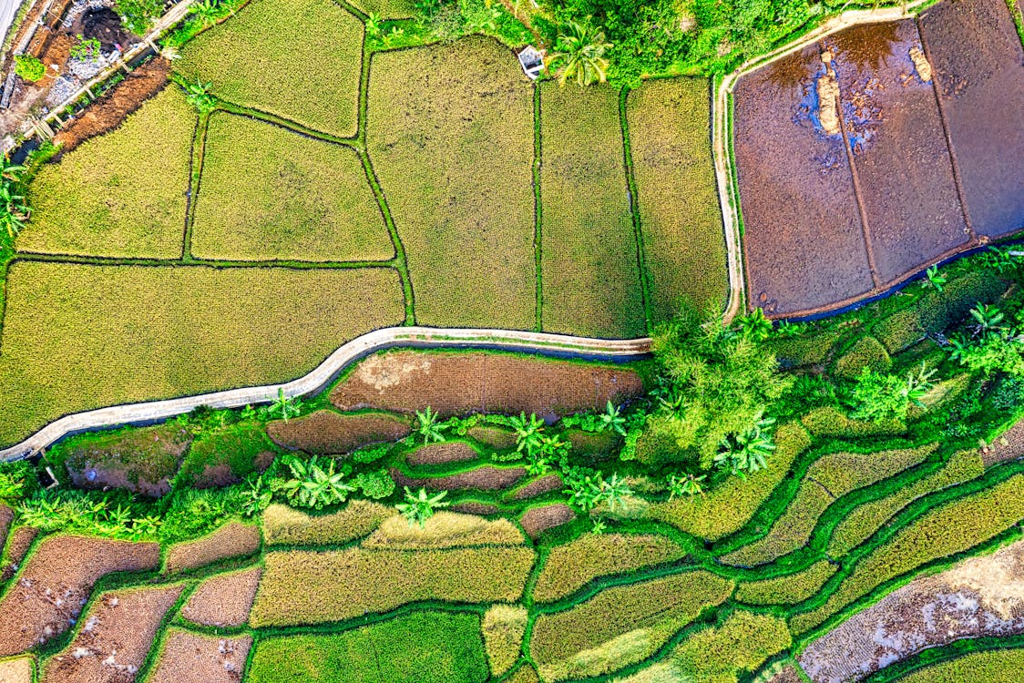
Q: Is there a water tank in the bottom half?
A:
No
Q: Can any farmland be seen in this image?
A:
Yes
